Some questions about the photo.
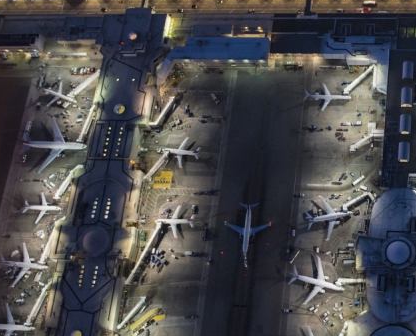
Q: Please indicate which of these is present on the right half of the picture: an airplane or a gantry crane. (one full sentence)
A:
There is an airplane on the right half of the picture.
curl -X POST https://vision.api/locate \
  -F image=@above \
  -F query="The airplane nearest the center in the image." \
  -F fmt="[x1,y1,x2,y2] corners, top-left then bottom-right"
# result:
[163,135,199,169]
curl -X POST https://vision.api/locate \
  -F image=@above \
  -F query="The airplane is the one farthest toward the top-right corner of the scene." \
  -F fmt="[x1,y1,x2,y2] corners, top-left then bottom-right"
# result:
[303,83,351,110]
